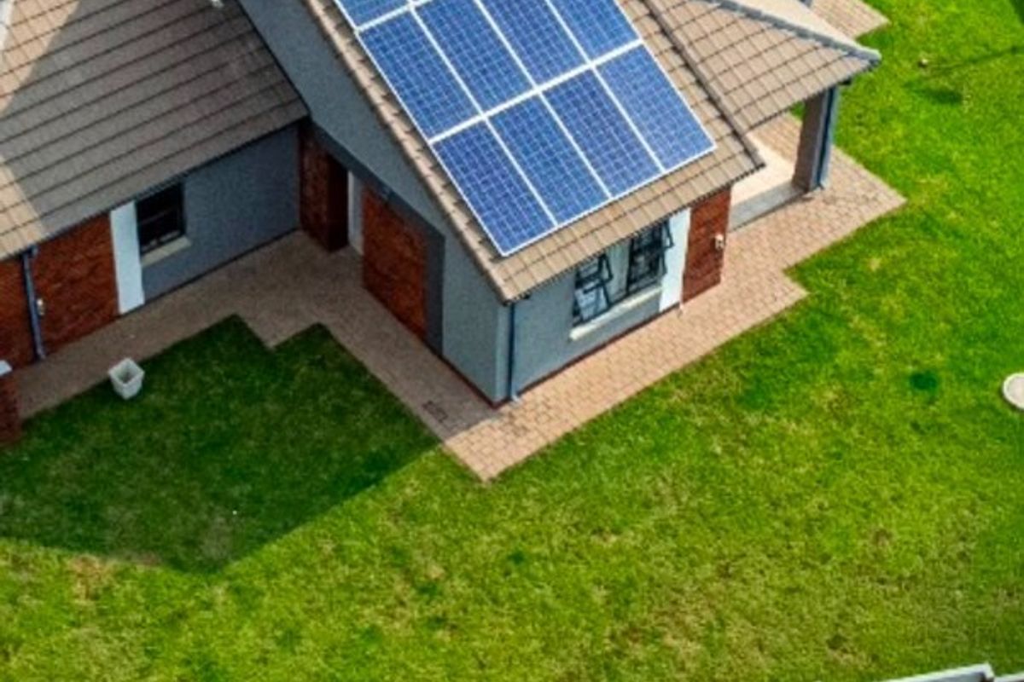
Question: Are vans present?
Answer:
No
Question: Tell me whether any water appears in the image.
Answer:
No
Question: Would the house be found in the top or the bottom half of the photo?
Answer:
top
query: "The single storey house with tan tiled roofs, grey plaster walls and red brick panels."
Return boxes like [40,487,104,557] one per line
[0,0,887,409]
